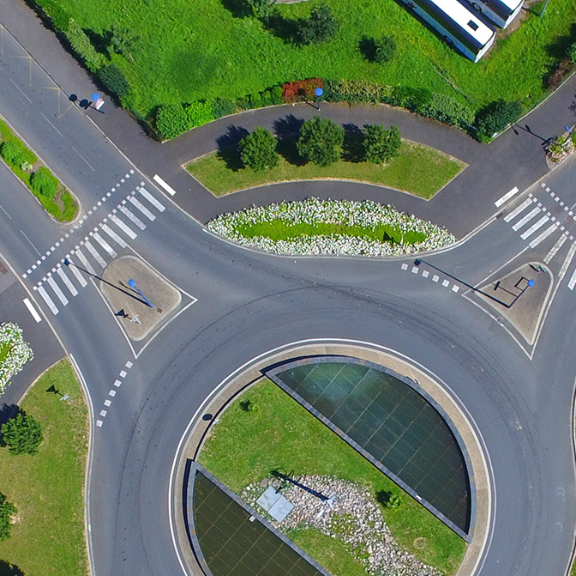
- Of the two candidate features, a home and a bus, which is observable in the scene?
bus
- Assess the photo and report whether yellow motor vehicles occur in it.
No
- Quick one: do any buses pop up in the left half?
No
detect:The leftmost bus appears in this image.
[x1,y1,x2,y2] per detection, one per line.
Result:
[397,0,497,59]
